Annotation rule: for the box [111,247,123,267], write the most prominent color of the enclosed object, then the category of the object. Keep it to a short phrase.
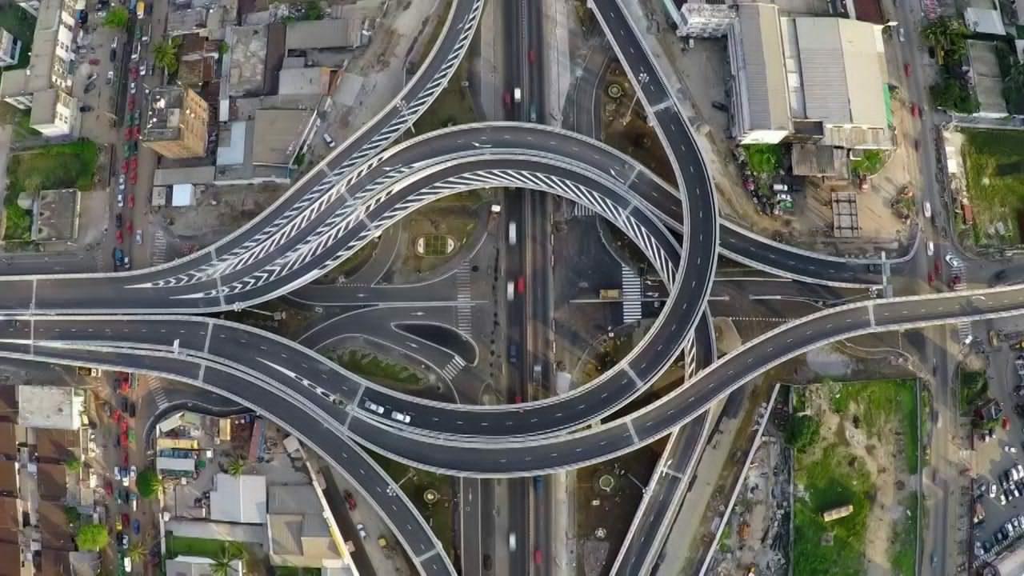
blue vehicle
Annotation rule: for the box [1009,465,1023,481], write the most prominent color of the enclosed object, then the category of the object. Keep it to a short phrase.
white vehicle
